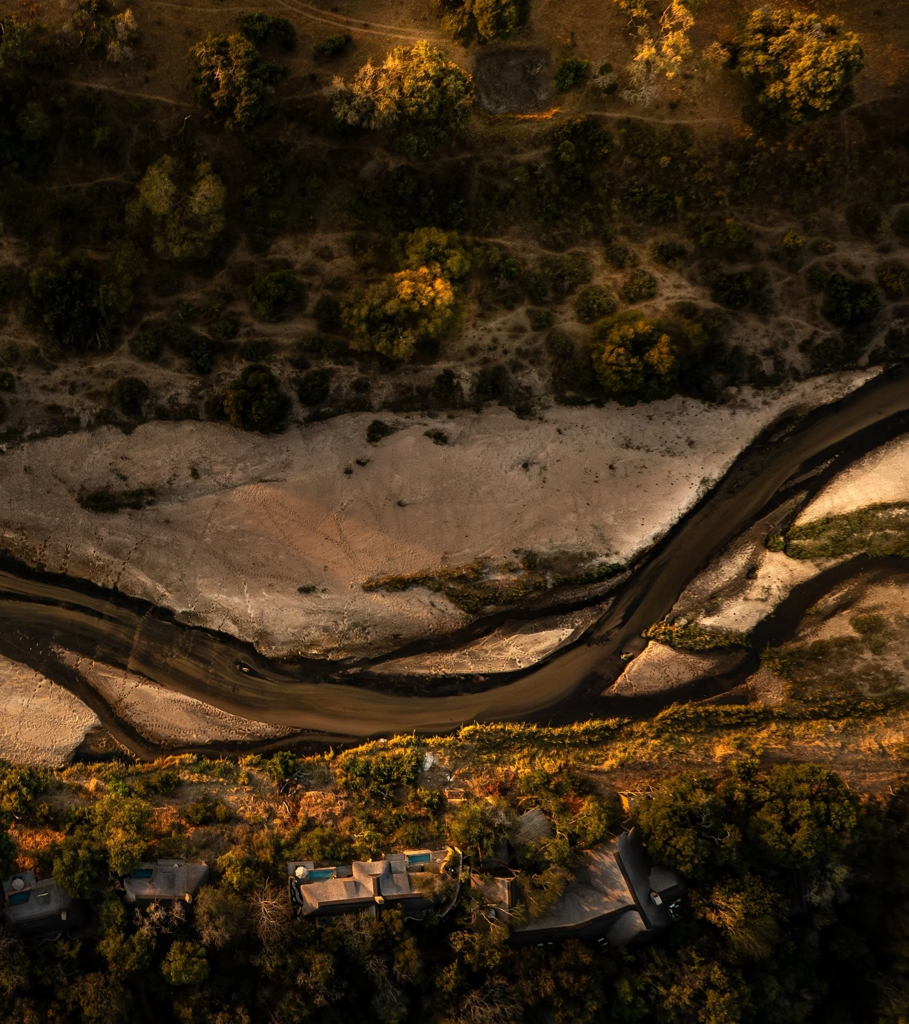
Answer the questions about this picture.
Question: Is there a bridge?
No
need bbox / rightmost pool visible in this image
[403,851,435,866]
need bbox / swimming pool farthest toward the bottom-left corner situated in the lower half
[6,887,35,905]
